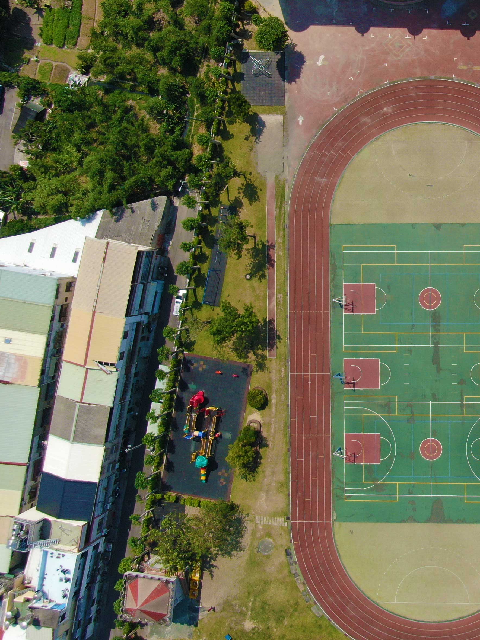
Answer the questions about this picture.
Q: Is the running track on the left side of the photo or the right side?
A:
right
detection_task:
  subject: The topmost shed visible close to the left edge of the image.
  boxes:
[13,102,50,139]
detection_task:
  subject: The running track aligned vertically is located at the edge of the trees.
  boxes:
[289,81,480,640]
